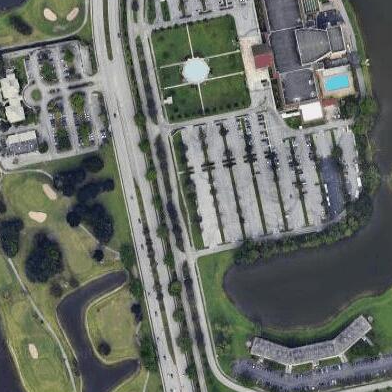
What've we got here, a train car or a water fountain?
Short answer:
water fountain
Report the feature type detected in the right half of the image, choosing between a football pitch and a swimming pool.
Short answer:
swimming pool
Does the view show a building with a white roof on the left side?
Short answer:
Yes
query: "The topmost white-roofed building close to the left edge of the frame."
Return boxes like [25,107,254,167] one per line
[0,73,21,101]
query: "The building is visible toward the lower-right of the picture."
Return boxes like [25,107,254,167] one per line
[251,316,372,370]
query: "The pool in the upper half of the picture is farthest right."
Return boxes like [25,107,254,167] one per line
[318,65,357,100]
